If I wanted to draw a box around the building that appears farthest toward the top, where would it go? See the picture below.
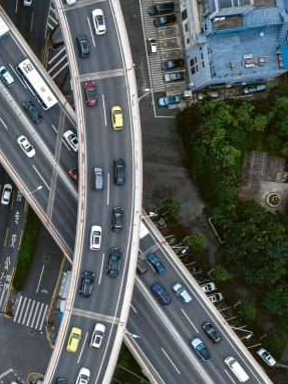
[178,0,288,89]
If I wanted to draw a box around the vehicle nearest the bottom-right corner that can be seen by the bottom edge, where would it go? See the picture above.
[255,347,276,366]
